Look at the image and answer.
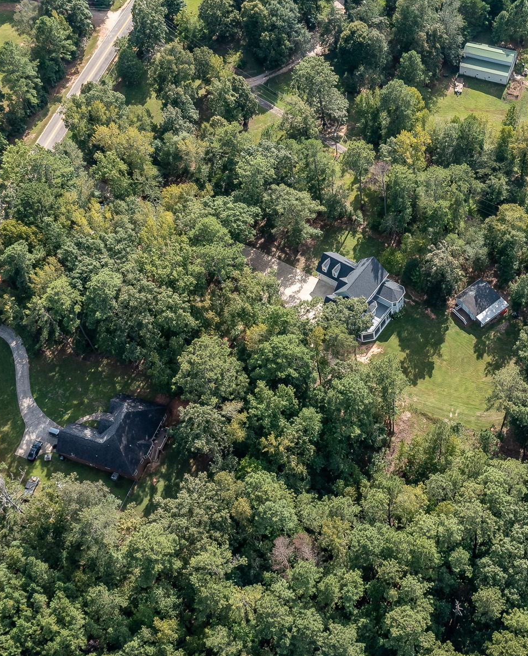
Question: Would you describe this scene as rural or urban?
rural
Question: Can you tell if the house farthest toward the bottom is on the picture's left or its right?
left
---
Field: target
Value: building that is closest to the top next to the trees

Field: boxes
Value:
[459,42,519,85]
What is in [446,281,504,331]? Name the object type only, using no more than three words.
shed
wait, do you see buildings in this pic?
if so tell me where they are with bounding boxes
[315,252,406,342]
[446,281,504,331]
[55,393,170,479]
[459,42,519,85]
